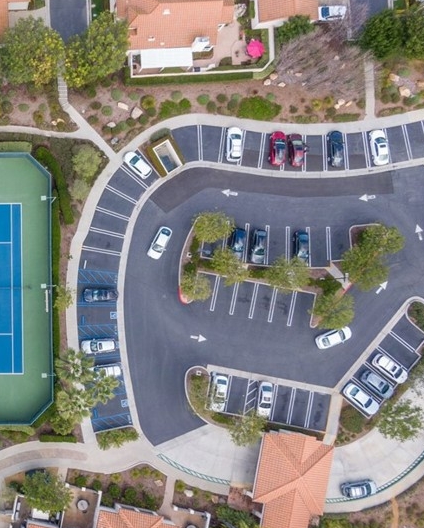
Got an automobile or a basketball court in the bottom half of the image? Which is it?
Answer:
automobile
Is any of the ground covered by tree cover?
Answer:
Yes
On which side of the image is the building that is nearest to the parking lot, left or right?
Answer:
right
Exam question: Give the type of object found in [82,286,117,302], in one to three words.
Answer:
car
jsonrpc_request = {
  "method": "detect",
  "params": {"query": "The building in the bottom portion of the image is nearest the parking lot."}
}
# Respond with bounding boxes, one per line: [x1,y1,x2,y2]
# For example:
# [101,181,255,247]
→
[252,427,335,528]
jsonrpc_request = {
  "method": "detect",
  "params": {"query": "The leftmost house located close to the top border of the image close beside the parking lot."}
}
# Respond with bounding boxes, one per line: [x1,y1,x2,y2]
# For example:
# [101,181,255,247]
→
[115,0,235,72]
